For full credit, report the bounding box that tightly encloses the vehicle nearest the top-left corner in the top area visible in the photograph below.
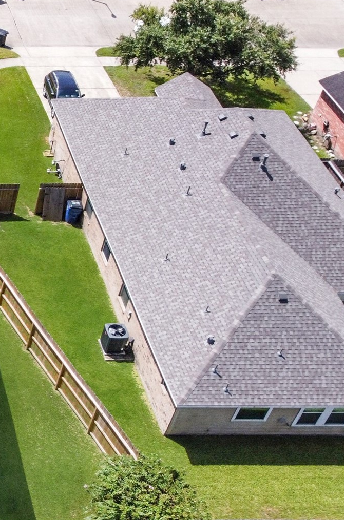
[40,59,84,99]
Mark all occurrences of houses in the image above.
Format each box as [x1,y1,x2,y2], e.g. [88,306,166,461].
[314,71,344,161]
[50,70,344,439]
